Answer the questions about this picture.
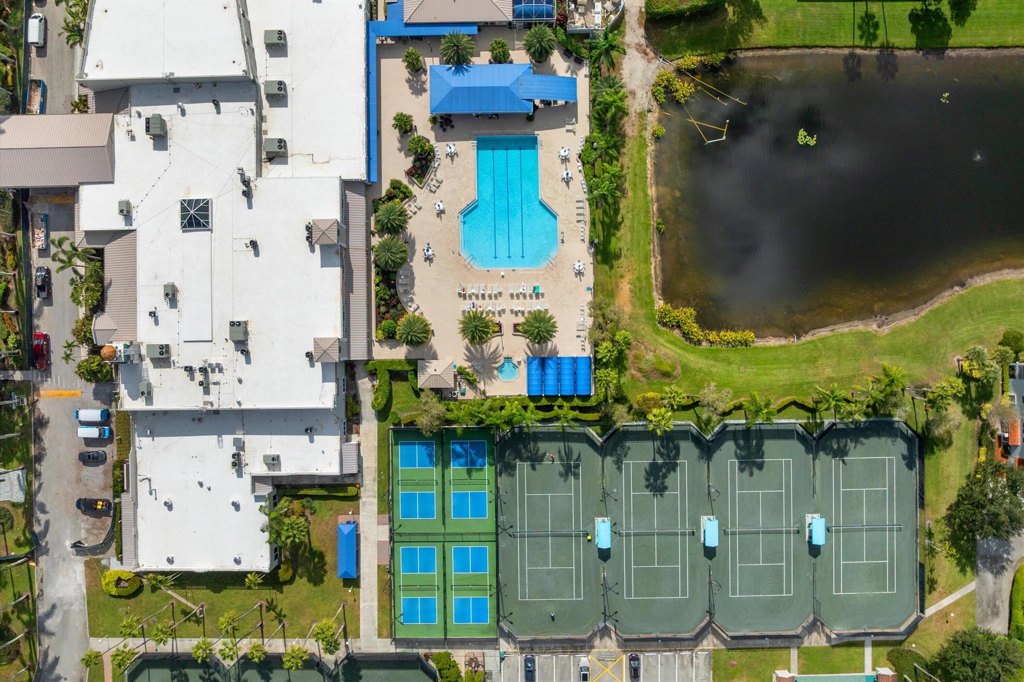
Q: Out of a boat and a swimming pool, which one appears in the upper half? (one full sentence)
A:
The feature located in the upper half is a swimming pool.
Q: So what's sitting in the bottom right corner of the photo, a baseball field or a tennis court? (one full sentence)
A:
It is a tennis court that can be seen in the bottom right corner of the photo.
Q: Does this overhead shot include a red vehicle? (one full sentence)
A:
Yes, a red vehicle appears in the view.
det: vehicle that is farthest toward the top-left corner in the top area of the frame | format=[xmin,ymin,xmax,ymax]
[27,15,47,49]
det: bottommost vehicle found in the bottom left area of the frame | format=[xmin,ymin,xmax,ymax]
[77,498,113,513]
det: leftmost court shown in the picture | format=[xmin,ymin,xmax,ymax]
[124,653,226,682]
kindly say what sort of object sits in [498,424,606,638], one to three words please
tennis court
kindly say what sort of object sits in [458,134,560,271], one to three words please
swimming pool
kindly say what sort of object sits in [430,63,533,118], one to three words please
building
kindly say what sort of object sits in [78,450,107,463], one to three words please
vehicle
